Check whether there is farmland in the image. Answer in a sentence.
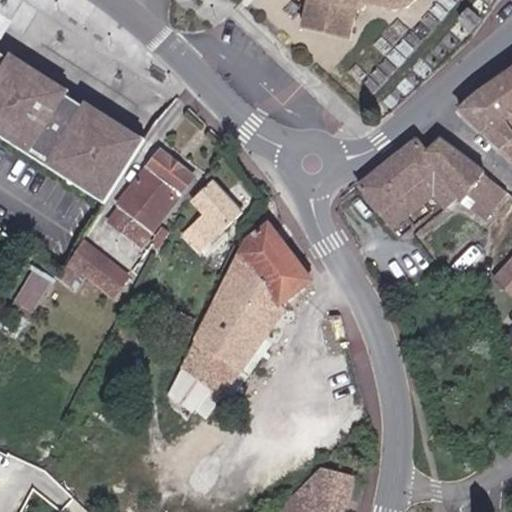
No, farmland can't be seen anywhere here.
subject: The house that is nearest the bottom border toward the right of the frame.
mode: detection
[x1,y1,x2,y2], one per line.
[278,466,355,512]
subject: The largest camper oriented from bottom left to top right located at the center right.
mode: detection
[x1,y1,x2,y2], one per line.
[453,244,482,272]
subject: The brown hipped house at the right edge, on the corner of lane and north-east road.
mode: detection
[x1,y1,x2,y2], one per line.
[458,68,512,150]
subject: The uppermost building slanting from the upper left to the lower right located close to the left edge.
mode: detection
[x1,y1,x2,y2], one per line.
[0,52,145,204]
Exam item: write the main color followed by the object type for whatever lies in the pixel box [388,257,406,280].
white vehicle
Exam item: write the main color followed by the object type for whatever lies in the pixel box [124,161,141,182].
white vehicle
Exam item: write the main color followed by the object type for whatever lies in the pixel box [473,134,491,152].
white car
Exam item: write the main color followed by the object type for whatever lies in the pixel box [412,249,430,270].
white car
